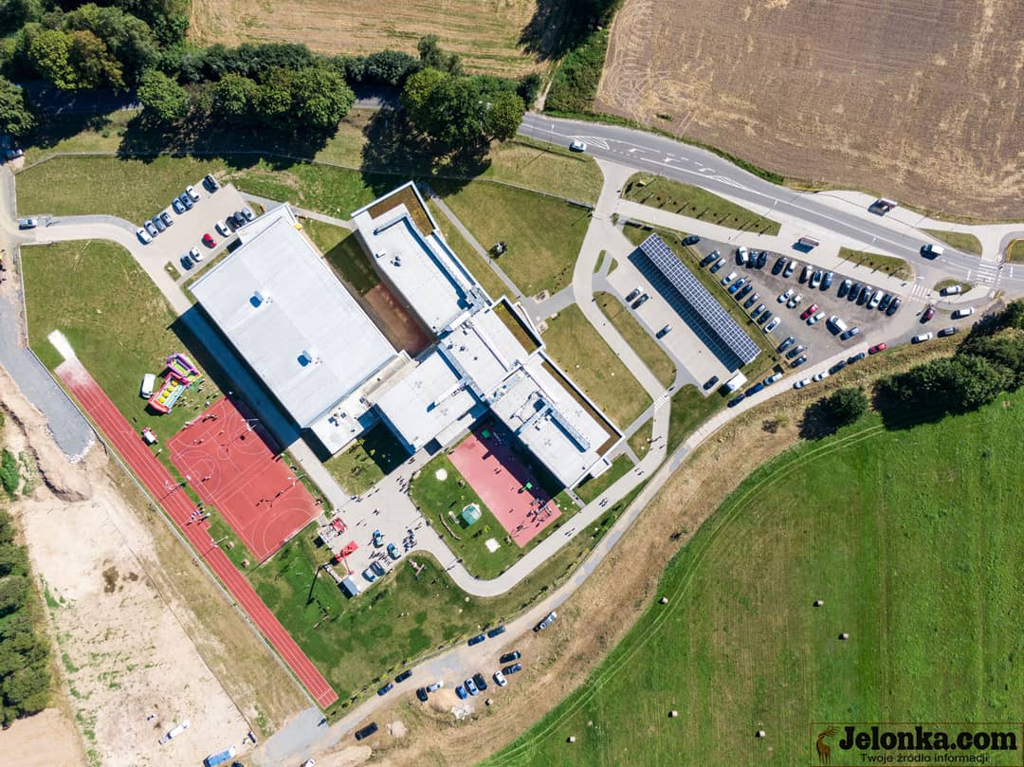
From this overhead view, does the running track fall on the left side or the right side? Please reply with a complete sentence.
The running track sits on the left side.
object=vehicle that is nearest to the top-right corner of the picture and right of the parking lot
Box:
[919,243,949,258]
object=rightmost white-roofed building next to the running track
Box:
[311,180,626,491]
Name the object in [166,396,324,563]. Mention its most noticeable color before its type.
red sports court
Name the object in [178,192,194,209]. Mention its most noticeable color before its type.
blue car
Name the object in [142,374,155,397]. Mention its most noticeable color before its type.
white vehicle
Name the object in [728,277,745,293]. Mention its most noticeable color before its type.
blue car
